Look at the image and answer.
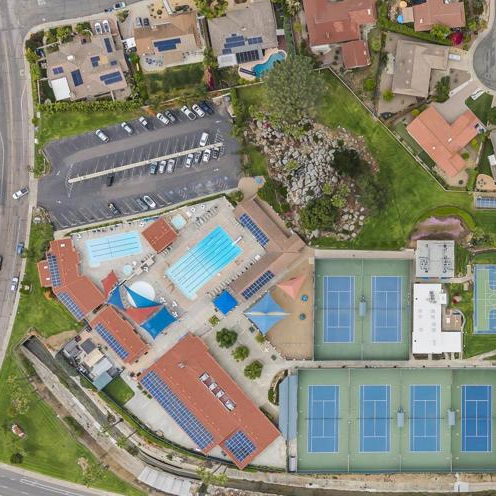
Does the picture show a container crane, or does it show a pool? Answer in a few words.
pool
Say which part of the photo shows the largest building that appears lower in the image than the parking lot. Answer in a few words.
bottom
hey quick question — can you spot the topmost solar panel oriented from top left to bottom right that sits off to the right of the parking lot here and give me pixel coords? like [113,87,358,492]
[240,214,268,245]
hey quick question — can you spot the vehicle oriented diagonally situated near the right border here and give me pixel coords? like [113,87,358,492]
[470,88,485,100]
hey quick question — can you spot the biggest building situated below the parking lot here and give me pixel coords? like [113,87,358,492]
[137,333,281,471]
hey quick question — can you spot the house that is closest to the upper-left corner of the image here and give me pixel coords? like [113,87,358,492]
[46,31,132,98]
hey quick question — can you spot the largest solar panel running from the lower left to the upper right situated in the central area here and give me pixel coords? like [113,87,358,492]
[242,271,273,299]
